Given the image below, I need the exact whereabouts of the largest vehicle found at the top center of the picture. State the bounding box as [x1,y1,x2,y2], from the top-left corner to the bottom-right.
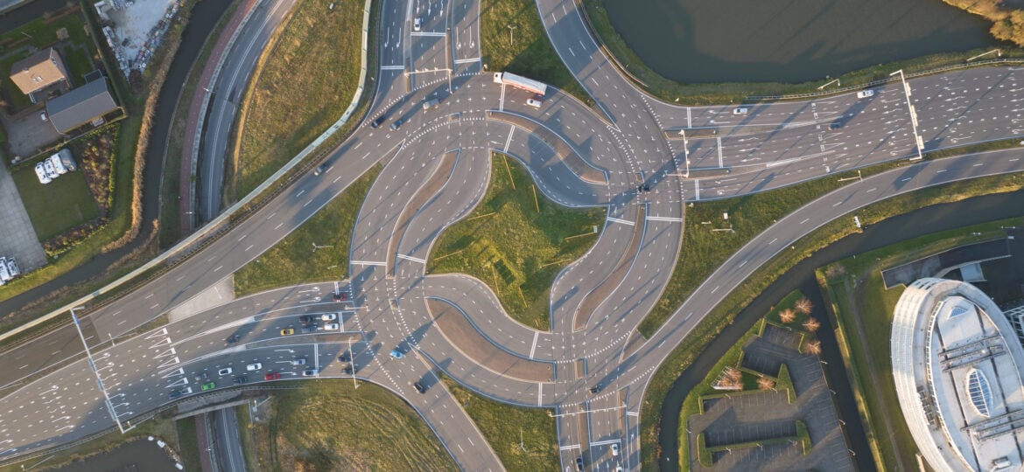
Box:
[493,70,548,93]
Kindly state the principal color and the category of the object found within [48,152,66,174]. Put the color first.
white camper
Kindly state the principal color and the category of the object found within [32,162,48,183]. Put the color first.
white camper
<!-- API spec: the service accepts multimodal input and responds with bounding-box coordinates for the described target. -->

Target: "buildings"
[45,77,117,134]
[890,277,1024,472]
[10,47,69,95]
